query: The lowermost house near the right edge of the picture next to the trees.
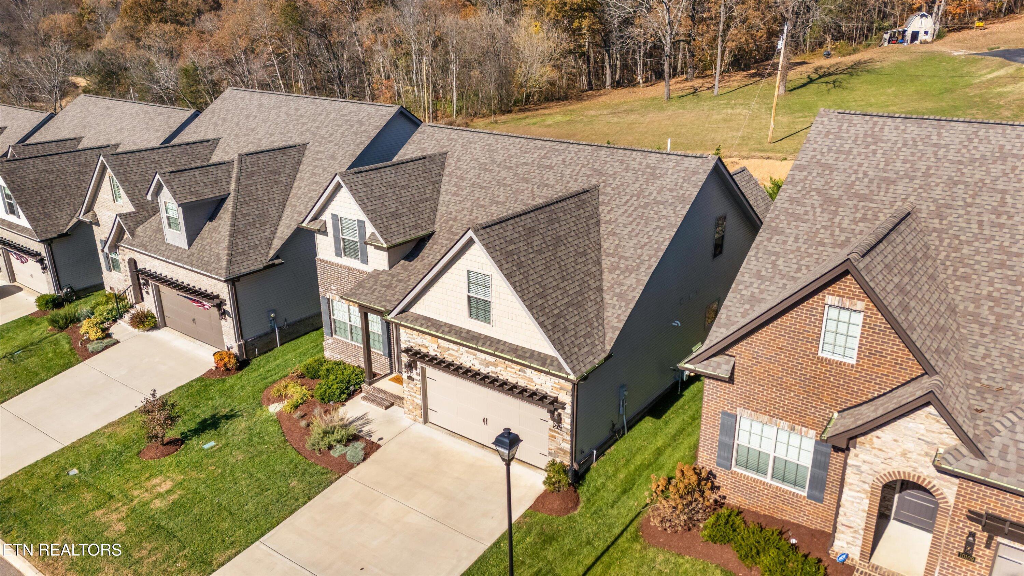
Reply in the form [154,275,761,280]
[678,105,1024,576]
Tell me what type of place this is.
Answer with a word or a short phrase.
residential area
